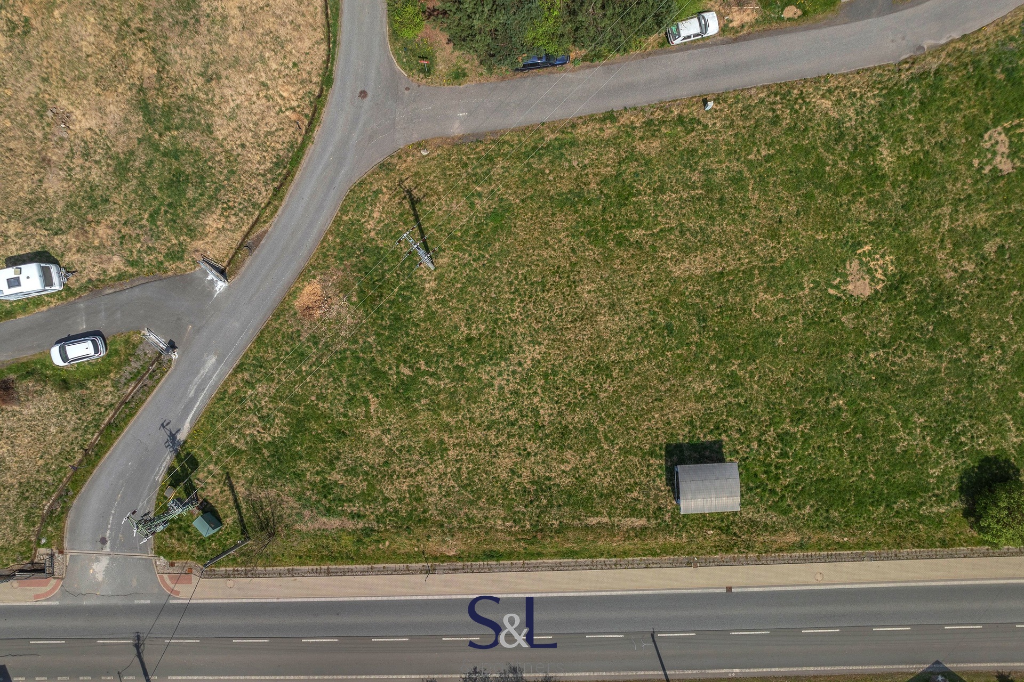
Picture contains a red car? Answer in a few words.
No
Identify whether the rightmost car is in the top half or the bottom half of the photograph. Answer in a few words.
top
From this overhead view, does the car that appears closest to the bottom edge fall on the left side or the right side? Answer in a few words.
left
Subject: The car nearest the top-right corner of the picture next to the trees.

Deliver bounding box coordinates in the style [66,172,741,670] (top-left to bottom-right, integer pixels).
[665,13,719,46]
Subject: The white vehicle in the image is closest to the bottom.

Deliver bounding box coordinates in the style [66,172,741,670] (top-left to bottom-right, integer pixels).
[52,333,112,366]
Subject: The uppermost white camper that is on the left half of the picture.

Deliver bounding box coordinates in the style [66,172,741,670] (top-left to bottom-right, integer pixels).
[0,263,80,302]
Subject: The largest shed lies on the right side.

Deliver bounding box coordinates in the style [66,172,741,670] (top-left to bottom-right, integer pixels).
[672,461,741,514]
